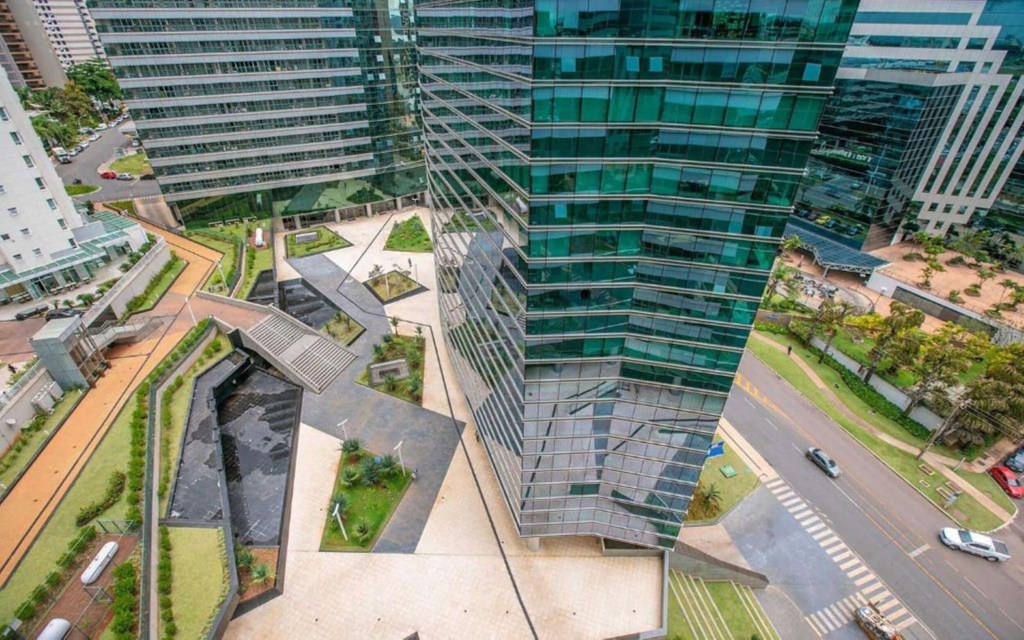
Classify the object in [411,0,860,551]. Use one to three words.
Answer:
building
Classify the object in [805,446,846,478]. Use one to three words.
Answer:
car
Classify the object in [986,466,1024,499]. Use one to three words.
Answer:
car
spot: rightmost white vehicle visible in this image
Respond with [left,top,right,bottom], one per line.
[944,530,1015,564]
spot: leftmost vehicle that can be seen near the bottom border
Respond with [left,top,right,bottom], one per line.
[851,598,910,640]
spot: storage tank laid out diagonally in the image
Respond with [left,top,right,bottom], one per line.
[82,544,120,580]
